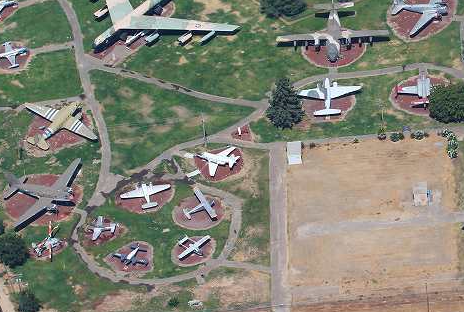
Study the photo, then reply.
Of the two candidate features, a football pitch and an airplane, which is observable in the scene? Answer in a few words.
airplane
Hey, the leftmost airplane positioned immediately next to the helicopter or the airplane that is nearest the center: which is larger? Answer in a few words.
the leftmost airplane positioned immediately next to the helicopter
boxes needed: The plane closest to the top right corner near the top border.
[389,0,449,33]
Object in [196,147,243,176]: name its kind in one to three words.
airplane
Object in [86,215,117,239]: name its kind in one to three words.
airplane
